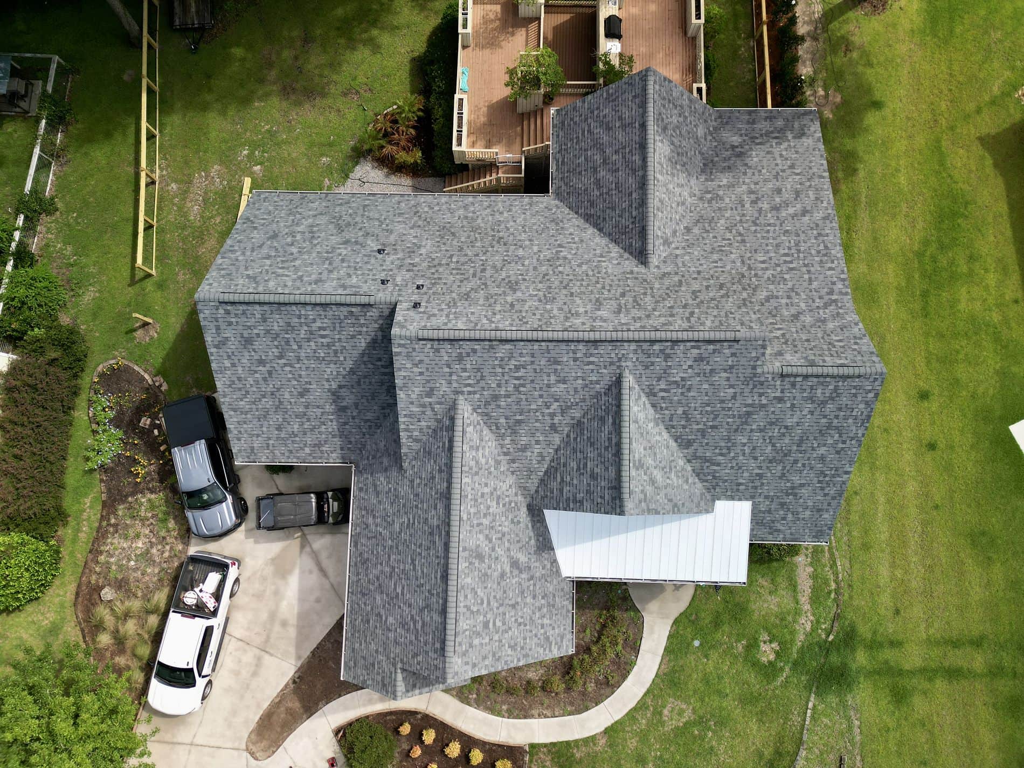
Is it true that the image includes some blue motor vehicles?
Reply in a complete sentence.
No, no blue motor vehicle is visible in the view.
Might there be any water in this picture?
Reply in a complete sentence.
No, no water is visible.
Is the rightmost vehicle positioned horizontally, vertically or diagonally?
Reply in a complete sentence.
The rightmost vehicle is oriented horizontally.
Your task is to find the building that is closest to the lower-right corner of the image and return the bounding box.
[196,68,885,700]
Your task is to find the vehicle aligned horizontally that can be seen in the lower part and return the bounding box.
[253,486,347,529]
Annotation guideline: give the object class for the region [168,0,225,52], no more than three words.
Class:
trailer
